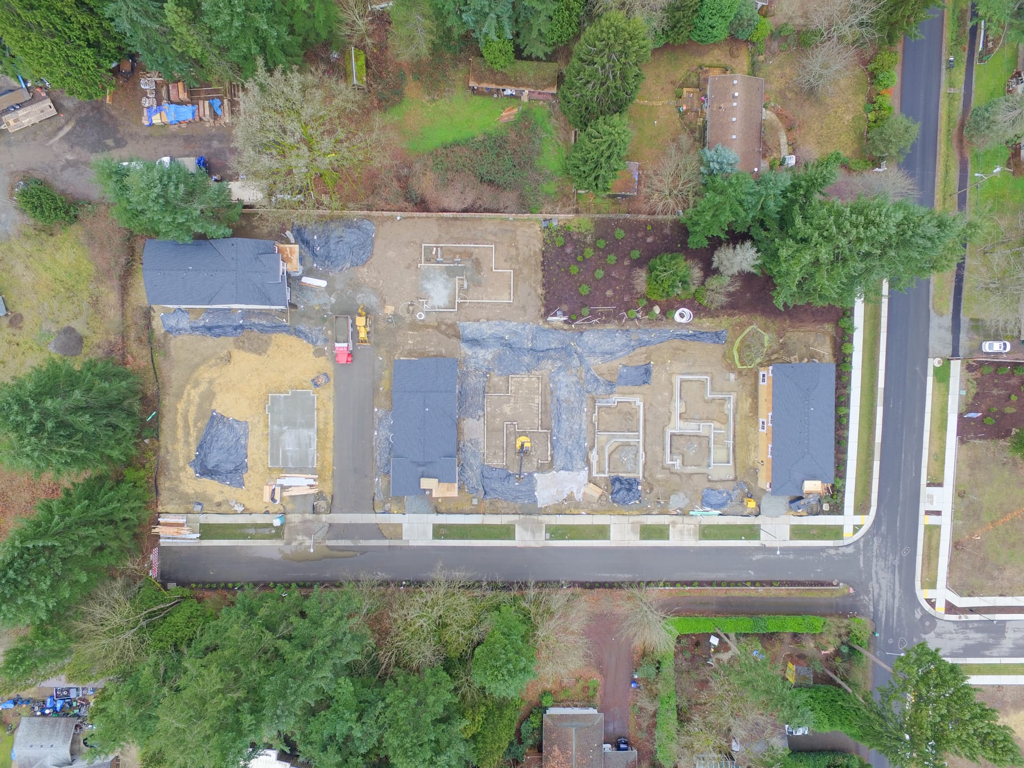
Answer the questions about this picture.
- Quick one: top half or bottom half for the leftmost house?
bottom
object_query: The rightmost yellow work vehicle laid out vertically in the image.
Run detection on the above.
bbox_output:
[516,435,531,492]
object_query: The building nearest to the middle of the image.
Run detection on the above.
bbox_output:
[390,358,458,499]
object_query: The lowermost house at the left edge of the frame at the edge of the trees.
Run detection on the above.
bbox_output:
[8,714,110,768]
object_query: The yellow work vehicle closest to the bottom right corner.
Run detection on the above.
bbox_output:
[735,495,758,508]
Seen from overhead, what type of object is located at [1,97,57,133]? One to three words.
trailer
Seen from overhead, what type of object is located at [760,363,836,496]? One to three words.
house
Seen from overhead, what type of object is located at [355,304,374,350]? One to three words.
work vehicle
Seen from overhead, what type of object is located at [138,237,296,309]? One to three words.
house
